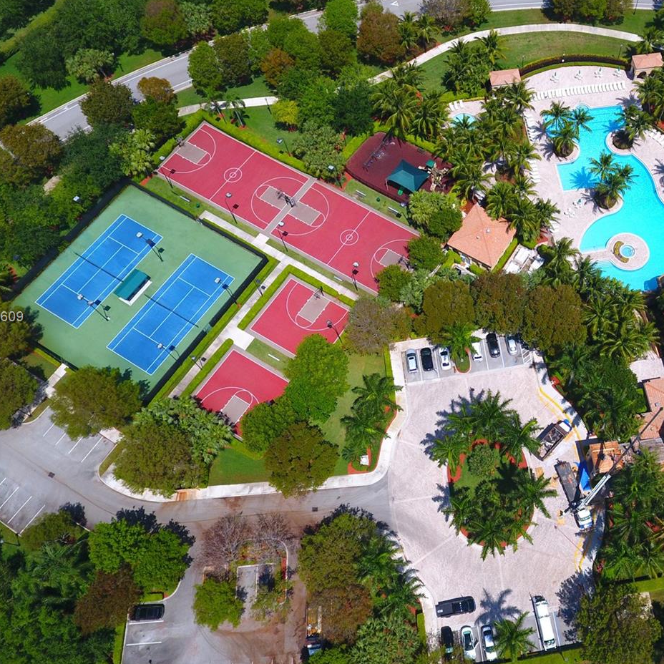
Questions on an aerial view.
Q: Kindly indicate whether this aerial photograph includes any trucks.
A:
Yes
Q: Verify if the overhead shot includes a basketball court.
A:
Yes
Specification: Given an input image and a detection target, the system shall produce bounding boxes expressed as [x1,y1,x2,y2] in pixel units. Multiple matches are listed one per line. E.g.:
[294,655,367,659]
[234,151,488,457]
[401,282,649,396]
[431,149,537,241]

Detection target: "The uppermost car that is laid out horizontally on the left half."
[133,604,167,622]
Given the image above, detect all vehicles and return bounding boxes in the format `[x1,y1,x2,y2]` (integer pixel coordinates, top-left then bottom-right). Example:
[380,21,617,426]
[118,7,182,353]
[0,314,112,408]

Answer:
[504,333,521,357]
[484,333,501,358]
[303,624,323,664]
[556,406,664,533]
[537,420,576,464]
[419,348,434,373]
[438,347,452,370]
[481,627,495,660]
[440,625,454,654]
[133,604,167,622]
[458,625,476,658]
[530,596,558,648]
[405,348,420,373]
[467,333,486,366]
[439,597,474,615]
